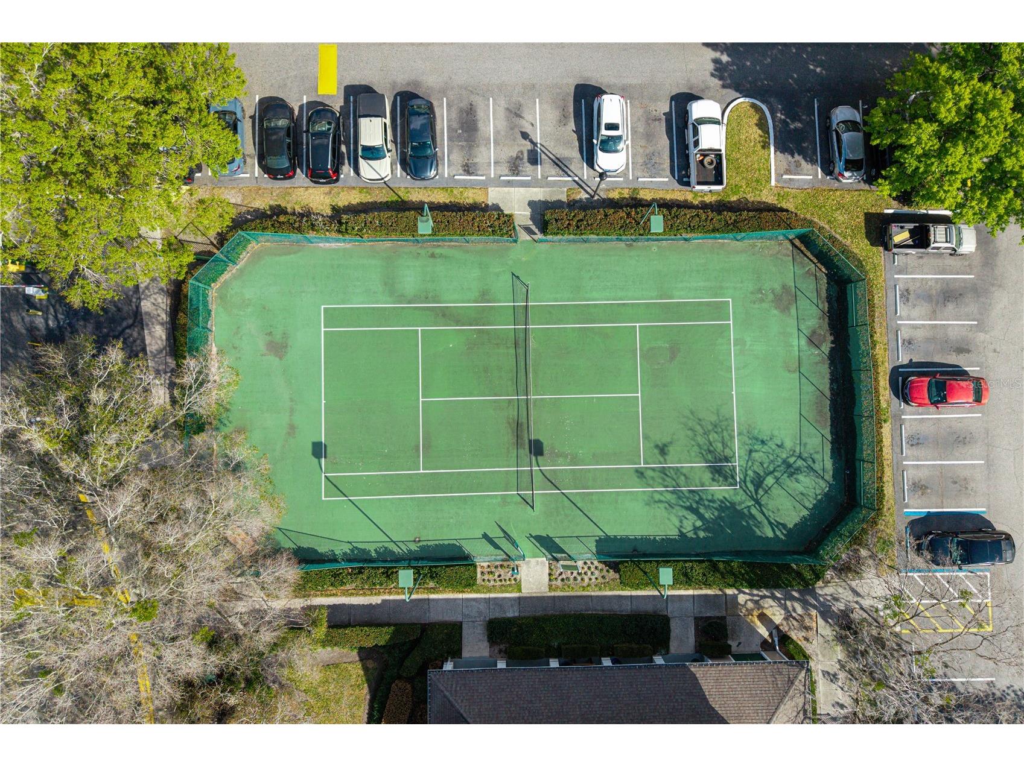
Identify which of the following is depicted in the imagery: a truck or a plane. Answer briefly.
truck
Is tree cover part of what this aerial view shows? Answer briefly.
Yes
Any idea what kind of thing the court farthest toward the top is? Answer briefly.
tennis court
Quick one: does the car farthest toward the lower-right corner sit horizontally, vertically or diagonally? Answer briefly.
horizontally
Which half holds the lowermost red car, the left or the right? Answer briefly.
right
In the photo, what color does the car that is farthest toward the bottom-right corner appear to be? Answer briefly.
black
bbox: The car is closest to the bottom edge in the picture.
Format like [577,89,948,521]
[921,528,1017,572]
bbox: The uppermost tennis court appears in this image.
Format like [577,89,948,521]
[213,241,848,561]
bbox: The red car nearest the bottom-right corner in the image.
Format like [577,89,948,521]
[904,374,989,412]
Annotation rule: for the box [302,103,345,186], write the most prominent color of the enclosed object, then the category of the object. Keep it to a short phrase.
black car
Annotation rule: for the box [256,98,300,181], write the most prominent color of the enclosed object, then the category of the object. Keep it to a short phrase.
black car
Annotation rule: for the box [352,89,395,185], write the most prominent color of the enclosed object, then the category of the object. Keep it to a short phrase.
white truck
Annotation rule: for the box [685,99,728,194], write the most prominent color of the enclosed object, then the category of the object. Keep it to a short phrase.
white truck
